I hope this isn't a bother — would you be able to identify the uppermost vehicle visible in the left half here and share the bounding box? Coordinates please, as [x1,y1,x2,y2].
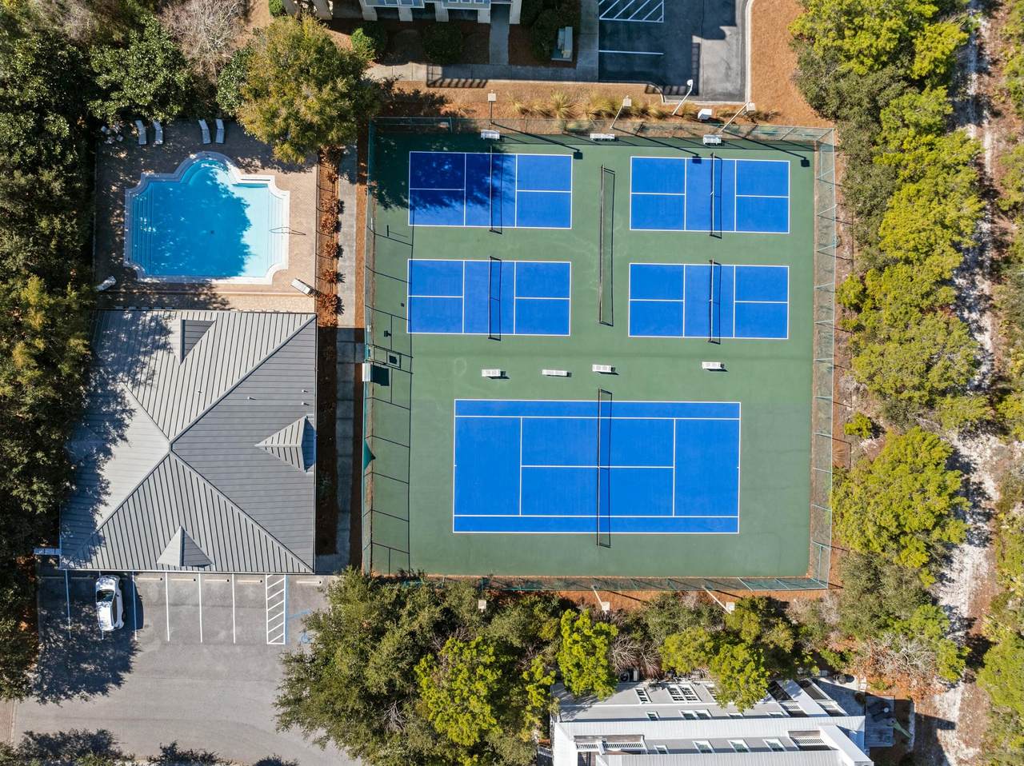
[92,576,124,631]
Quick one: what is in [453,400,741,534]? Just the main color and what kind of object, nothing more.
blue tennis court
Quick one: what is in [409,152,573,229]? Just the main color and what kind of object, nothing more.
blue sports court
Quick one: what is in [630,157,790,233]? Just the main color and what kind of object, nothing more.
blue sports court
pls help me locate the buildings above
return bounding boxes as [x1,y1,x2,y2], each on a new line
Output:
[272,0,522,22]
[533,683,874,766]
[39,309,318,575]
